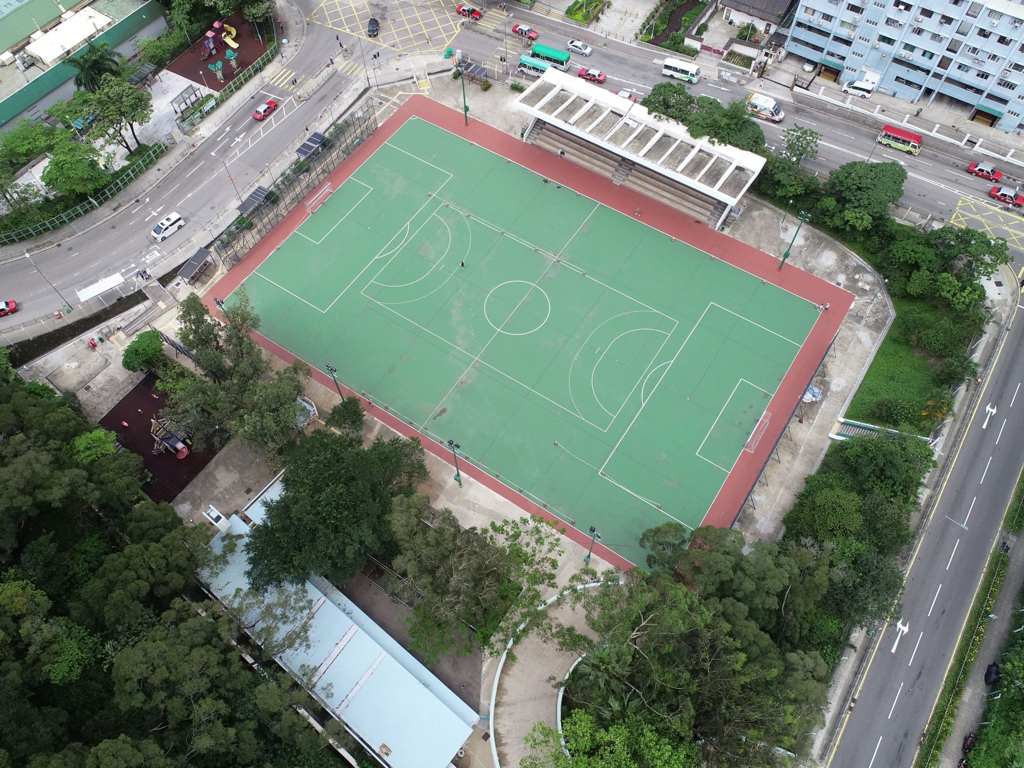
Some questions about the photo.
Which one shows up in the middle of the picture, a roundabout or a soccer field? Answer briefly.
soccer field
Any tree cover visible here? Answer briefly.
Yes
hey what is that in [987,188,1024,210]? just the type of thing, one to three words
car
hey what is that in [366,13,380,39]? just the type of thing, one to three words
vehicle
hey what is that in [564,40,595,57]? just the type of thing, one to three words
car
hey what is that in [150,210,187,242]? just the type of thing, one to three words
vehicle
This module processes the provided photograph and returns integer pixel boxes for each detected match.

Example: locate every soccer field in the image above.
[197,92,856,601]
